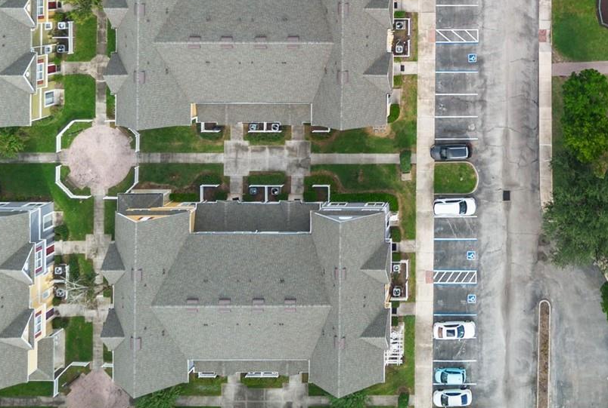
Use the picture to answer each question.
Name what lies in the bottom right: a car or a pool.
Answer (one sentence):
Visible in the bottom right is a car.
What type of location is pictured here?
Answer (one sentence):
The area seen from above is a residential area.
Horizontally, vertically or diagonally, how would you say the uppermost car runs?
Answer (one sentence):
The uppermost car is oriented horizontally.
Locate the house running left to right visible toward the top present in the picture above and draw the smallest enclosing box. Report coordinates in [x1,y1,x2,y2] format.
[107,0,394,132]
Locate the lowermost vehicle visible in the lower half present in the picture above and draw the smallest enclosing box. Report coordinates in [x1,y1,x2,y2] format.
[433,388,472,408]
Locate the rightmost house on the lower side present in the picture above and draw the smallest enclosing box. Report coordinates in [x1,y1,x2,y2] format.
[104,189,392,397]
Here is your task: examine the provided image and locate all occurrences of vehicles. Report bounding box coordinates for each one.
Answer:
[436,366,468,387]
[433,388,472,408]
[430,143,471,163]
[433,320,475,341]
[434,197,476,218]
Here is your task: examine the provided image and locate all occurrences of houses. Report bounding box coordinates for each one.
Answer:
[107,0,394,132]
[104,189,392,397]
[0,0,55,130]
[0,200,66,390]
